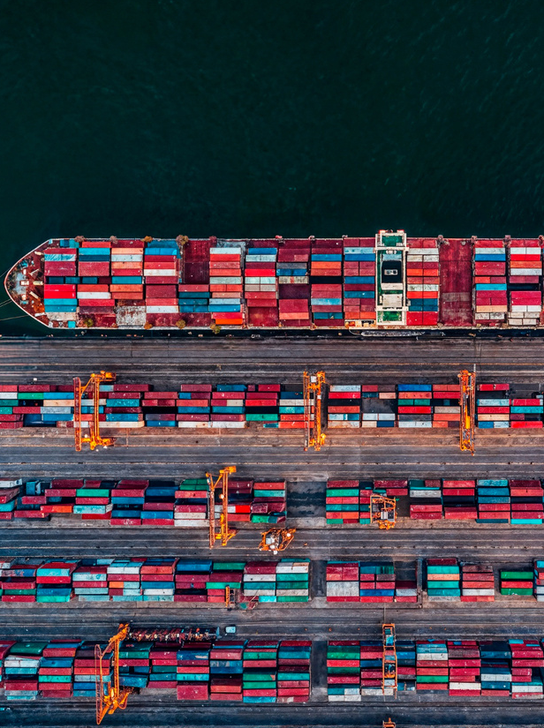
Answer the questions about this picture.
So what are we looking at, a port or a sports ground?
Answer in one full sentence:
The area seen from above is a port.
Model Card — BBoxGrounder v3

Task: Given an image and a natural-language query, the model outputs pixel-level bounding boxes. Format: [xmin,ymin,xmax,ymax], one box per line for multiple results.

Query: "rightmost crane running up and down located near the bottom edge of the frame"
[381,624,404,701]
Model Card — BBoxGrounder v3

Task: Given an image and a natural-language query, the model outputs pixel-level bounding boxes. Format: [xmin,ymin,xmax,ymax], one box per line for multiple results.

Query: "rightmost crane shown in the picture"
[452,374,478,452]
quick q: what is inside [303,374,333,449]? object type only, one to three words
crane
